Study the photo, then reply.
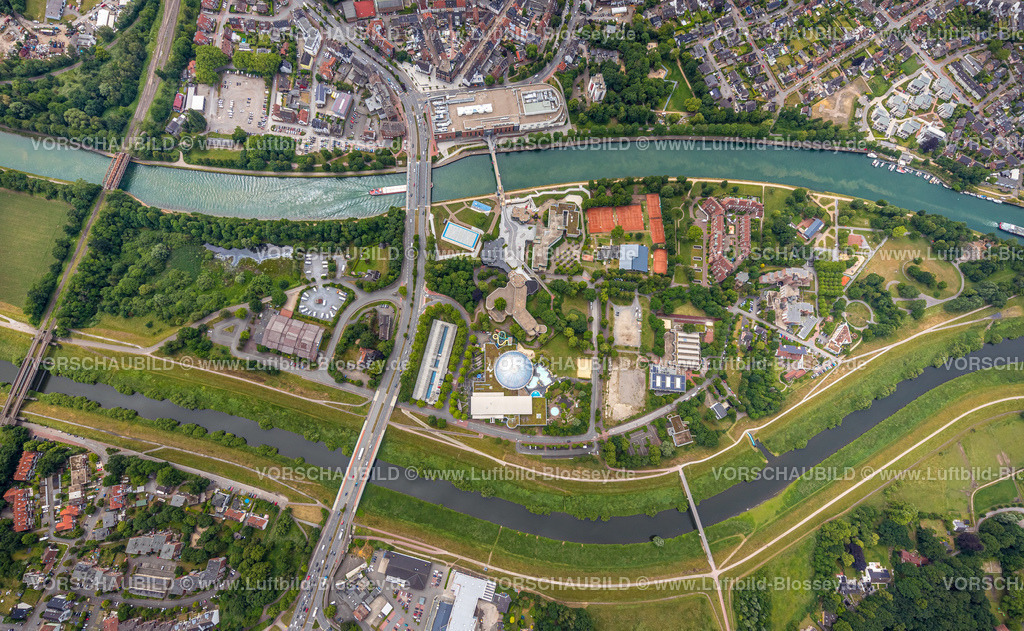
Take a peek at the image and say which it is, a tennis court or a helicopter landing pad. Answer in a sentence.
This aerial view contains a tennis court.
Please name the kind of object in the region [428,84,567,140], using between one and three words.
building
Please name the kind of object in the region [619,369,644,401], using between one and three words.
sports field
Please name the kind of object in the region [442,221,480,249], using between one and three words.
swimming pool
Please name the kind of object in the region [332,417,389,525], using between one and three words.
bridge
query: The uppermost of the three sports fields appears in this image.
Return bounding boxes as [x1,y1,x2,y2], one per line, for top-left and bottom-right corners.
[614,310,643,346]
